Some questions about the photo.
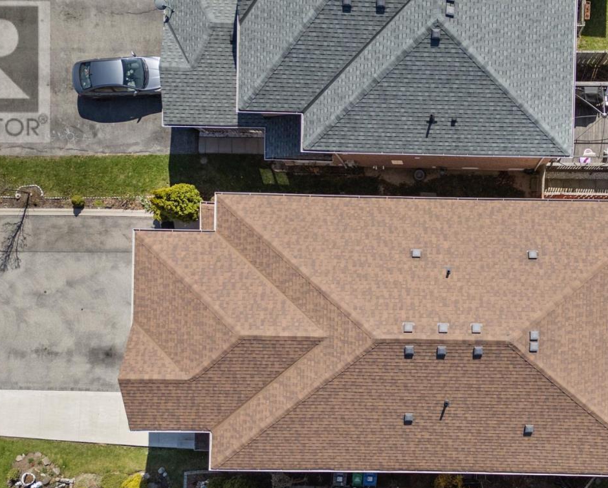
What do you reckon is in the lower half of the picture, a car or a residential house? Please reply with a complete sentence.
The one visible in the lower half of the picture is a residential house.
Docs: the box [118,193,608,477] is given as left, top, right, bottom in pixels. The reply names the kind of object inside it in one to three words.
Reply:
house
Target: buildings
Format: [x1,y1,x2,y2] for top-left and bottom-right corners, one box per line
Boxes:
[118,193,608,477]
[160,0,574,171]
